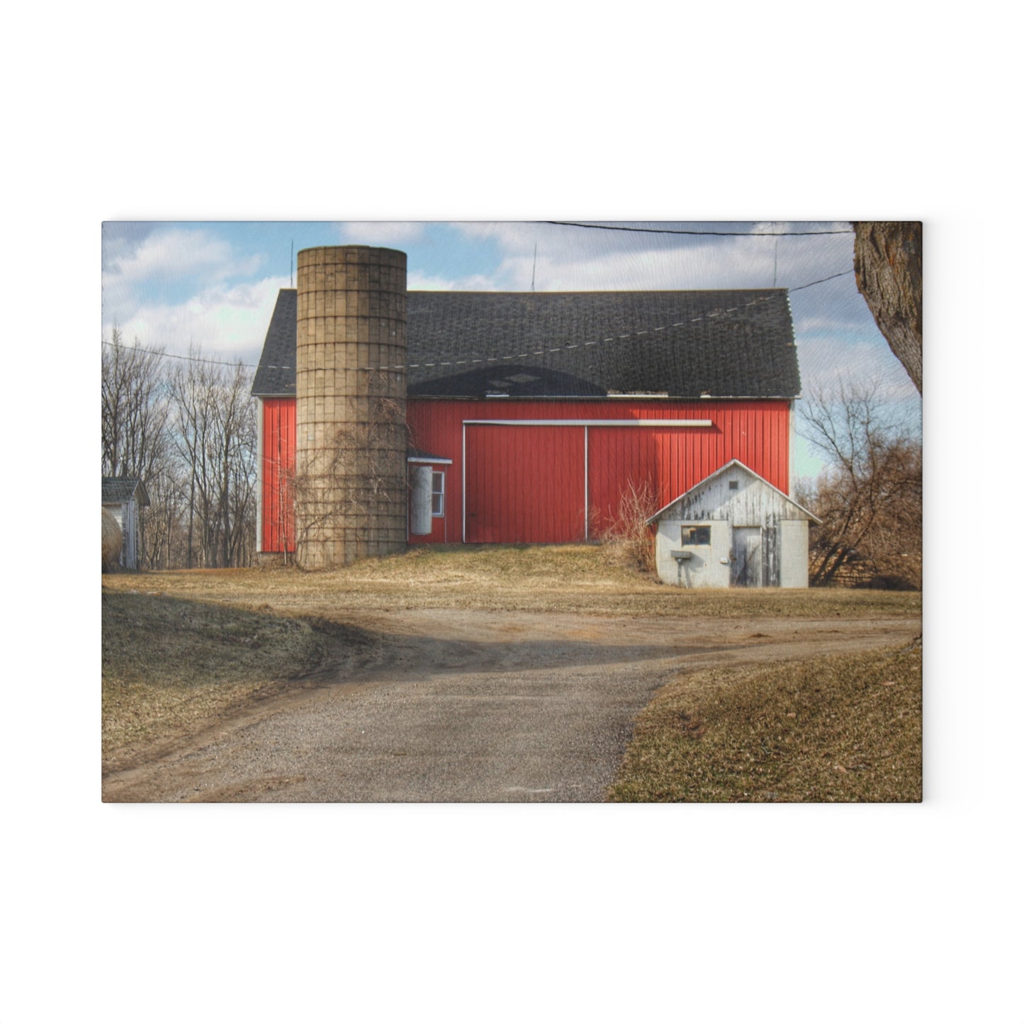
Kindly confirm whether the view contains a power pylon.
No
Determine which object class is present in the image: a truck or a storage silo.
storage silo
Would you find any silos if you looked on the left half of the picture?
Yes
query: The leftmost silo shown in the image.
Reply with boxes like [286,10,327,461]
[296,245,407,571]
